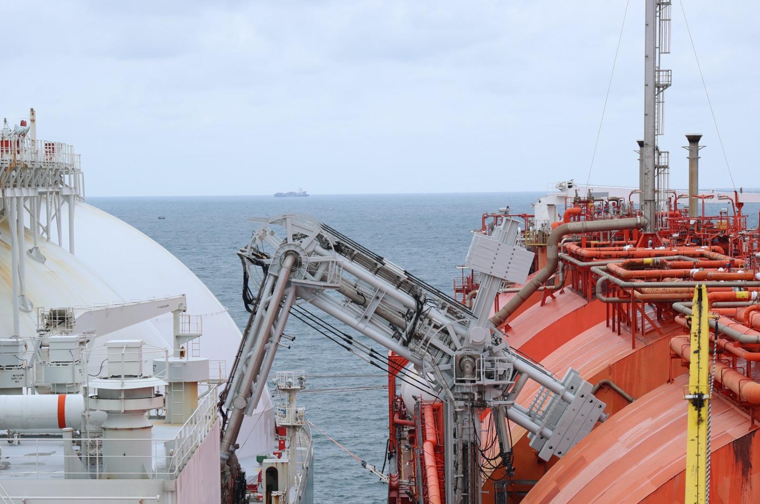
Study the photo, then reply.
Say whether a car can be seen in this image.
No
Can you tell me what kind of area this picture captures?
industrial area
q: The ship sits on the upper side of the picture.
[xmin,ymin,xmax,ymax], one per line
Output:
[274,186,309,199]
